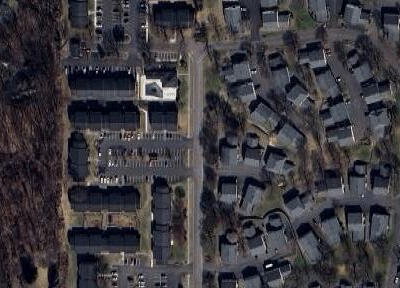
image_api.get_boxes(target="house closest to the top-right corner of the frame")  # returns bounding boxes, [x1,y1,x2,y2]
[382,15,400,43]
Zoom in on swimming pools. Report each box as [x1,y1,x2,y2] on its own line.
[141,76,176,101]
